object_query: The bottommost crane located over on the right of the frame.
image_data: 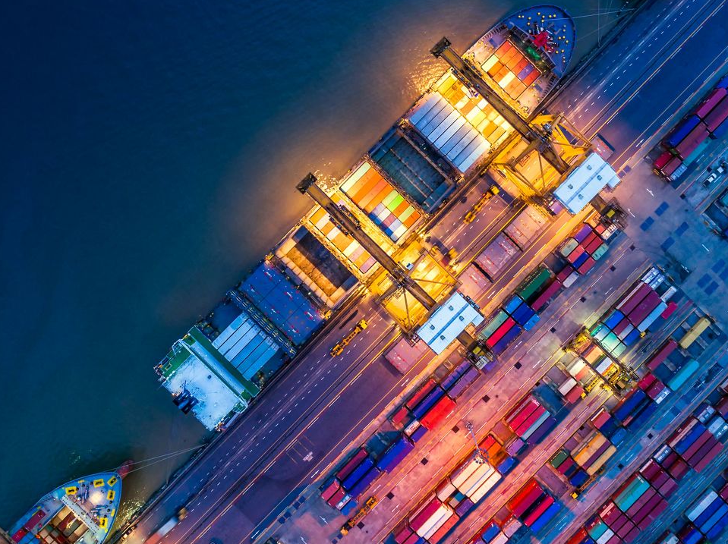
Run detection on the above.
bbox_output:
[561,324,643,401]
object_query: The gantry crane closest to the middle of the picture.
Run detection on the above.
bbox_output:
[293,171,499,373]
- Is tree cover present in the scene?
No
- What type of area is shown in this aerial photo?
port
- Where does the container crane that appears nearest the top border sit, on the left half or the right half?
right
